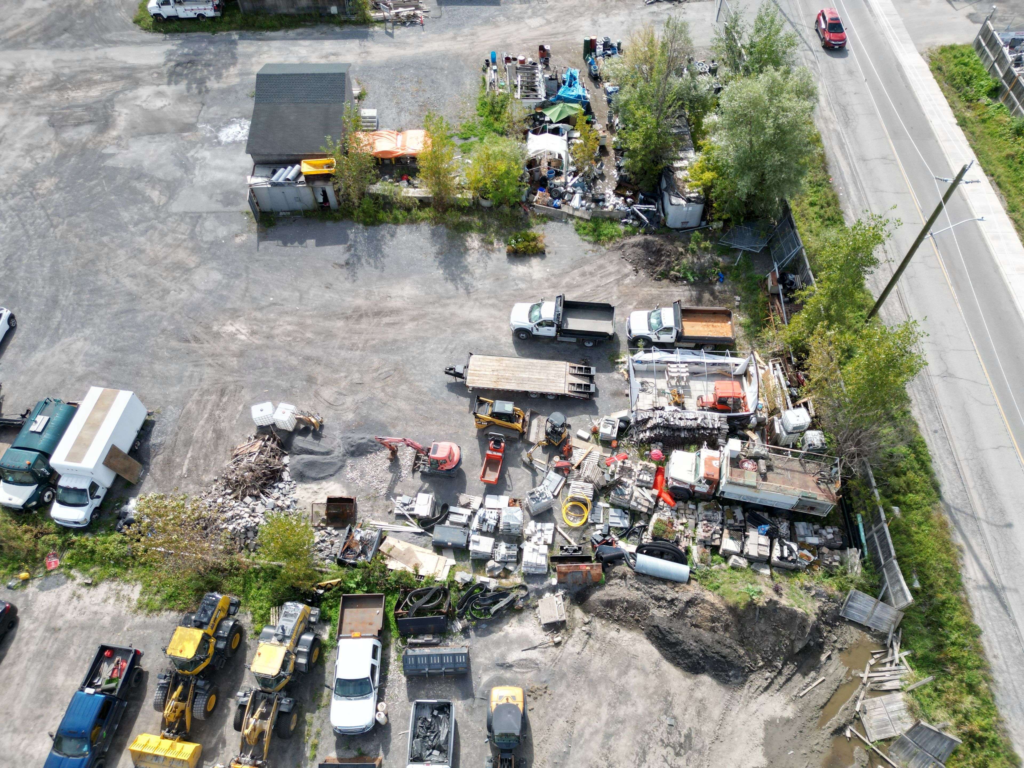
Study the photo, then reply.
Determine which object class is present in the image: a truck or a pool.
truck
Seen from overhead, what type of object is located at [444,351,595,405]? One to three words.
trailer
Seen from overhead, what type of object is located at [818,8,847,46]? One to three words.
car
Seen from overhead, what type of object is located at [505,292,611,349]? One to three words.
truck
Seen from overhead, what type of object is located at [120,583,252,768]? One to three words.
work vehicle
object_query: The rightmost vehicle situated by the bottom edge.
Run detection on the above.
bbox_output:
[484,695,533,768]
